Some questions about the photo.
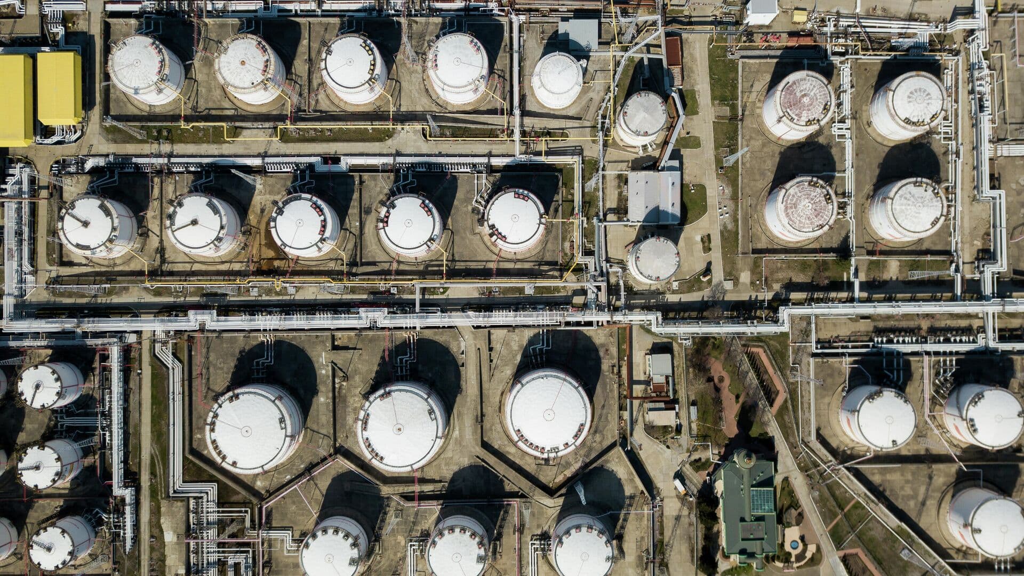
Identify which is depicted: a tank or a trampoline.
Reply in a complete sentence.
This aerial view contains a tank.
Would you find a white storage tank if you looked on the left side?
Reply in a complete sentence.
Yes, a white storage tank is visible on the left side.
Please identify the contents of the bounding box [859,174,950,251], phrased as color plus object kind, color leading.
white storage tank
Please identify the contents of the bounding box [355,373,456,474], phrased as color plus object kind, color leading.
white storage tank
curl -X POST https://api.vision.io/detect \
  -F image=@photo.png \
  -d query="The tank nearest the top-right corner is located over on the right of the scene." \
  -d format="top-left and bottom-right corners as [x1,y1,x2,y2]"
[858,70,948,150]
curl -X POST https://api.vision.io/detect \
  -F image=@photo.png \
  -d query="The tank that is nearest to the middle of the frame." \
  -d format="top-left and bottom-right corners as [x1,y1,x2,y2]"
[476,186,553,262]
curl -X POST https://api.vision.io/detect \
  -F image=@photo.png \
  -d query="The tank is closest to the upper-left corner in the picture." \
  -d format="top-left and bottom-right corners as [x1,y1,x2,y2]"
[106,34,193,113]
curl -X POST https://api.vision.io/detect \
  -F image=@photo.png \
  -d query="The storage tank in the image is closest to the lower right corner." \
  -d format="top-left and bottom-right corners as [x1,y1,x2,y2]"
[938,478,1024,561]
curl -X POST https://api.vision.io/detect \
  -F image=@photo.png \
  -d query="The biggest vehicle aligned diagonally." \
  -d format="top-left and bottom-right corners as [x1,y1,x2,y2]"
[674,478,688,496]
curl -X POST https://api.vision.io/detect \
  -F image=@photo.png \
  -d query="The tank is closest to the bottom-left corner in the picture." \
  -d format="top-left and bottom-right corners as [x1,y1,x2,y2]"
[0,509,28,567]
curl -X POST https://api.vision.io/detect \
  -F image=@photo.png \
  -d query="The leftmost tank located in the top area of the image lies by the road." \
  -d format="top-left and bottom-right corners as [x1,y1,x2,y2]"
[57,190,147,267]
